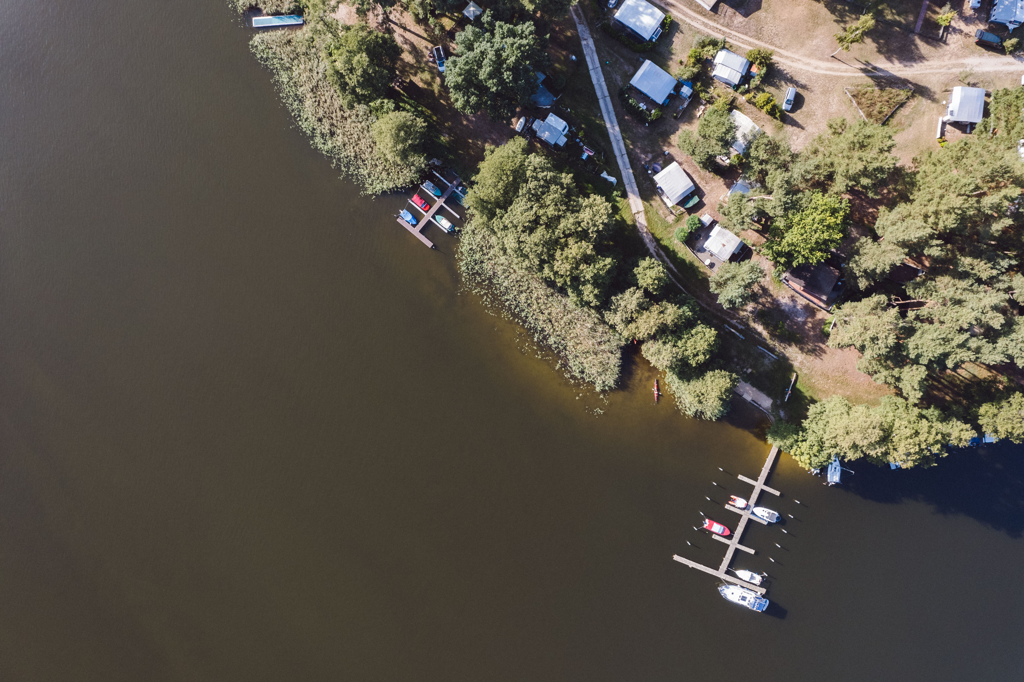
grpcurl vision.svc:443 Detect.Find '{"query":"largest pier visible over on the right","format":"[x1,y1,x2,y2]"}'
[673,444,781,594]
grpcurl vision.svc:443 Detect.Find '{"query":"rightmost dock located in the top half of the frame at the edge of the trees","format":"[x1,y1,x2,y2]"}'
[396,176,462,248]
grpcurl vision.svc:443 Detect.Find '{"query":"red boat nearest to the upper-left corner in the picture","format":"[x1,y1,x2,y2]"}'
[409,192,430,211]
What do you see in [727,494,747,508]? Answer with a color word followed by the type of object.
white boat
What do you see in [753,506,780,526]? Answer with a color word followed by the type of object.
white boat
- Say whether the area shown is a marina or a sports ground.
marina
